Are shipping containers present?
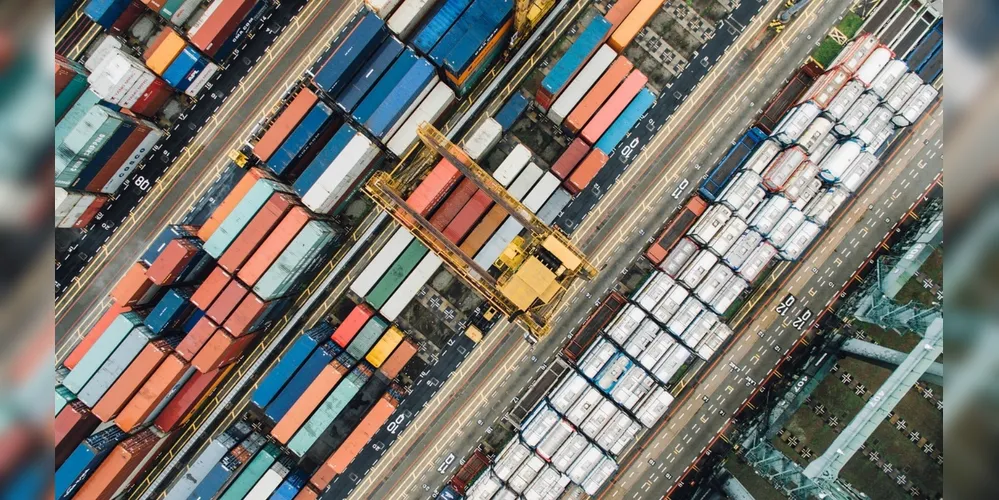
Yes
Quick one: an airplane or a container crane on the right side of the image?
container crane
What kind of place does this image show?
industrial area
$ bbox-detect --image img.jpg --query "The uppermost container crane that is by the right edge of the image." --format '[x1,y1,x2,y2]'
[843,186,999,364]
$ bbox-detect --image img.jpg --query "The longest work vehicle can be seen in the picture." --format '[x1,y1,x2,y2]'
[220,92,295,182]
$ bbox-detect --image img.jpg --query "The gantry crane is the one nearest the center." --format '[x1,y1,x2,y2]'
[361,115,601,339]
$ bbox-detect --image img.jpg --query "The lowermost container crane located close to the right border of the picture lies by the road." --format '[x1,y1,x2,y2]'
[735,319,999,500]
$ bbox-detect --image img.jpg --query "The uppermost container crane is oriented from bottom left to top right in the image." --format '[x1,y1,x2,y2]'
[502,0,561,61]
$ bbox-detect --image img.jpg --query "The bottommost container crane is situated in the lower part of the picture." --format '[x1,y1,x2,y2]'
[677,455,750,500]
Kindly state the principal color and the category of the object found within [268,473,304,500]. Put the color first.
blue shipping container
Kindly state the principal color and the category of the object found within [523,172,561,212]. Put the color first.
white shipping container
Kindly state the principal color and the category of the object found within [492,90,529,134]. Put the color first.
blue shipping container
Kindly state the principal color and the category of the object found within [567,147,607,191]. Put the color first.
orange shipping container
